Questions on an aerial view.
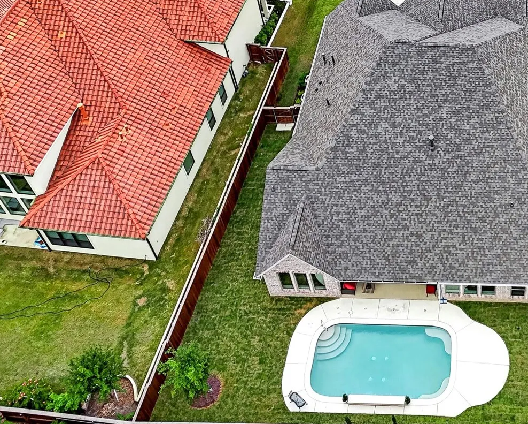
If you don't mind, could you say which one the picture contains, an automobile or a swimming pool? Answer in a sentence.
This aerial view contains a swimming pool.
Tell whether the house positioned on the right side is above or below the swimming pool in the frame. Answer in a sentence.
From this view, the house positioned on the right side can be seen above the swimming pool.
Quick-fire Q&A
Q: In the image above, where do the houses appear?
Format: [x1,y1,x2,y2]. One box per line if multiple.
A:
[252,0,528,309]
[0,0,278,262]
